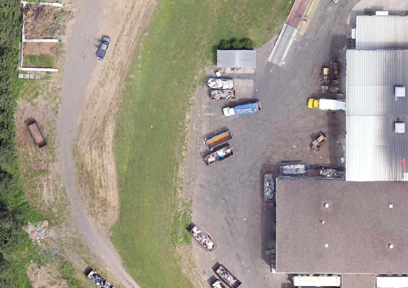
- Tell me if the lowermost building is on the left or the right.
right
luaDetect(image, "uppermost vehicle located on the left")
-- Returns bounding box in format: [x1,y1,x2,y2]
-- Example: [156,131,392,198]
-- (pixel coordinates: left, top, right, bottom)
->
[96,35,110,59]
